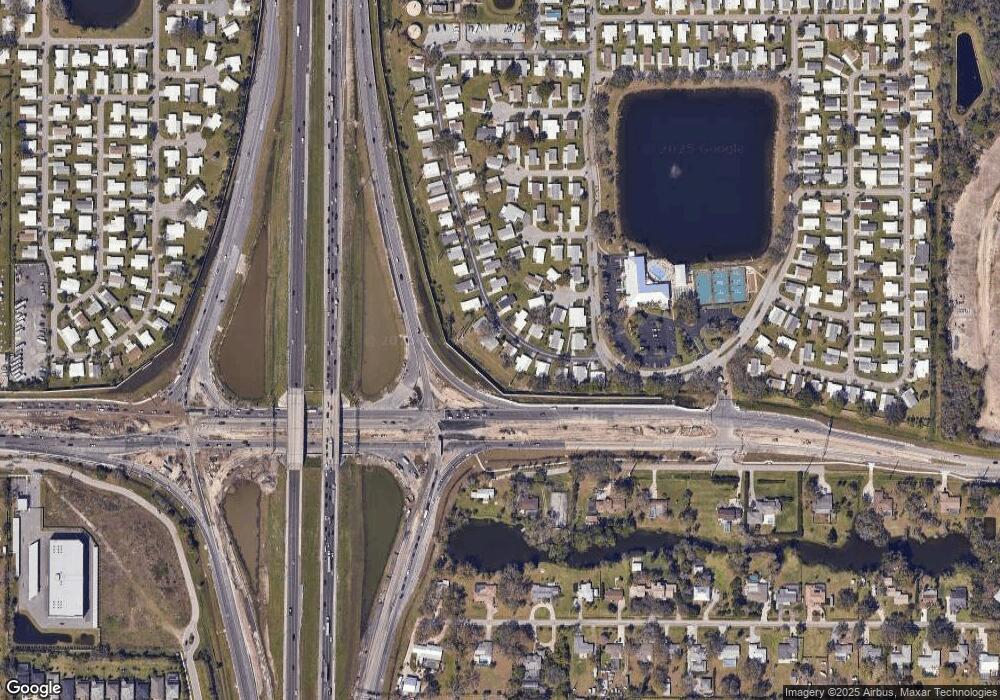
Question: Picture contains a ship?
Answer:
No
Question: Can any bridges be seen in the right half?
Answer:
No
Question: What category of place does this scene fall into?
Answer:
residential area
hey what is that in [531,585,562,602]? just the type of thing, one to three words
house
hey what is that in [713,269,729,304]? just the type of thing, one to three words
tennis court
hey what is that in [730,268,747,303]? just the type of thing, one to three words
tennis court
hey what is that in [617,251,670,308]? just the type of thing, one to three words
building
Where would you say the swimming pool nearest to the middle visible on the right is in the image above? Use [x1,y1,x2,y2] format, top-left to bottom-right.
[648,263,667,280]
